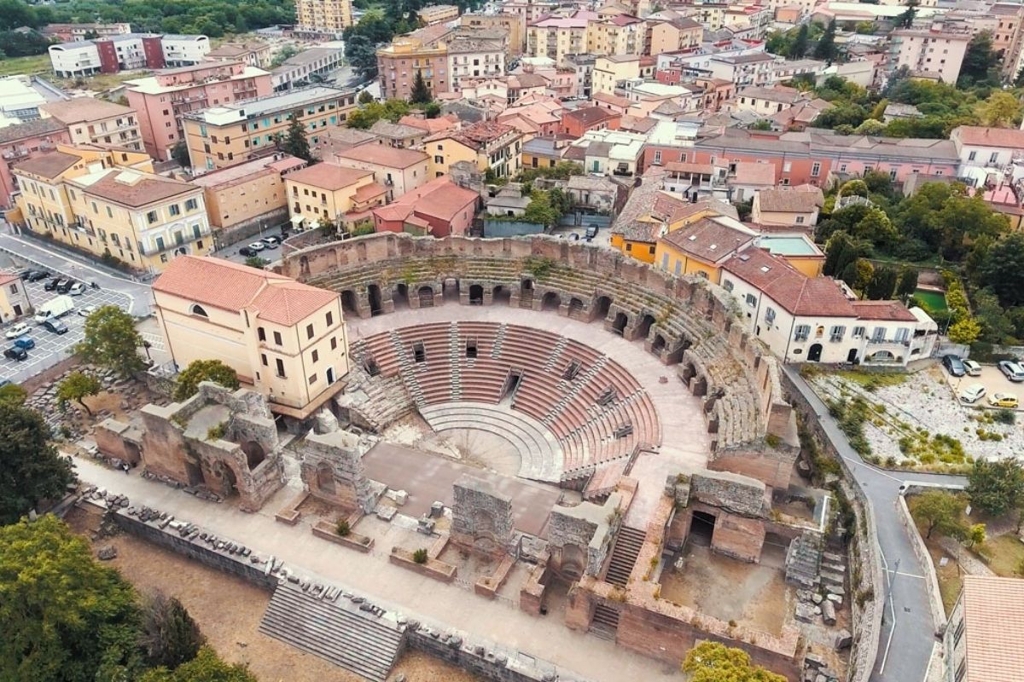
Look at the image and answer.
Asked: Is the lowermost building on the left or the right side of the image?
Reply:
right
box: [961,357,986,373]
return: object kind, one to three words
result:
car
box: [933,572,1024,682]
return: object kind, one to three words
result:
building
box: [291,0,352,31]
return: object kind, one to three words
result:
building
